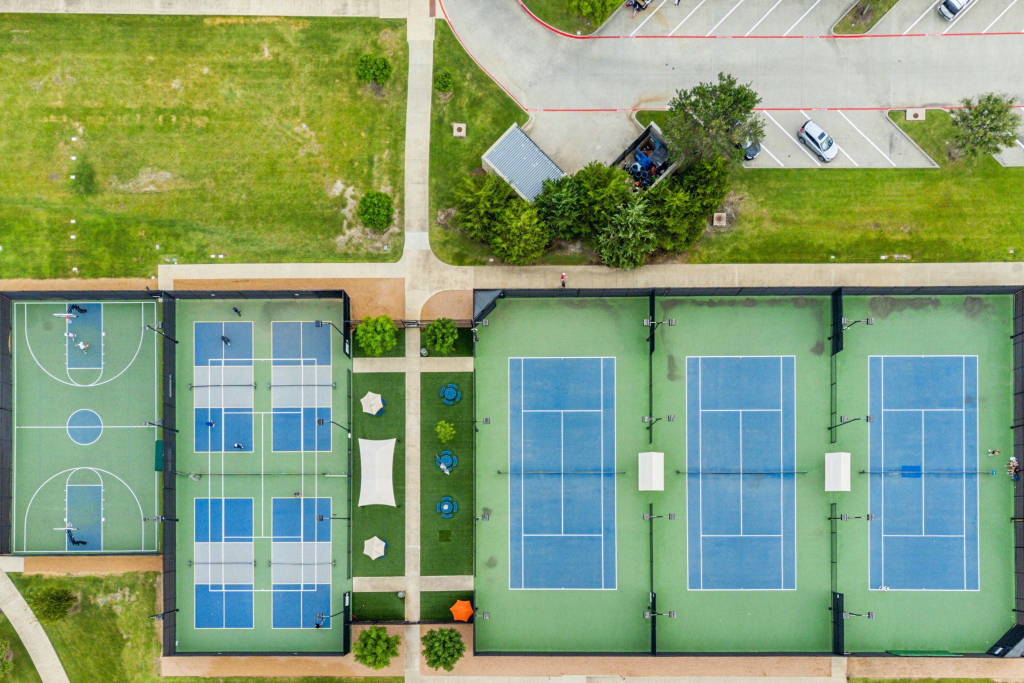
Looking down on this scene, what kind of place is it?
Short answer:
sports ground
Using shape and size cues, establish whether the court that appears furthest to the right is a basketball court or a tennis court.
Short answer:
tennis court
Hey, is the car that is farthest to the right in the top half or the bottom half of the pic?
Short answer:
top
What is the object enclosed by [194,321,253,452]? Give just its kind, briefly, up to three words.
sports court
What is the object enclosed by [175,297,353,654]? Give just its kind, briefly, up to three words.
tennis court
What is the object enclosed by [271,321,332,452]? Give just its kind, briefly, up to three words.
sports court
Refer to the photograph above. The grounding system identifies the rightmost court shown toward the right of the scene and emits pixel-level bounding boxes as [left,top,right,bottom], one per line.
[832,295,1017,653]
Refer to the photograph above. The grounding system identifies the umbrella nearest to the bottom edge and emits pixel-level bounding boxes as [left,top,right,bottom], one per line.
[450,600,473,622]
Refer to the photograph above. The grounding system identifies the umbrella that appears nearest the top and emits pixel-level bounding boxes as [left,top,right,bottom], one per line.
[361,392,384,415]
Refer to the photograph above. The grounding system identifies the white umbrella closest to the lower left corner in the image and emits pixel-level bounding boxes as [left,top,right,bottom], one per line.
[364,537,385,560]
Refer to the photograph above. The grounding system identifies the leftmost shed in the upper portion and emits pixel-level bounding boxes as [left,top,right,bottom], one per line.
[482,122,567,207]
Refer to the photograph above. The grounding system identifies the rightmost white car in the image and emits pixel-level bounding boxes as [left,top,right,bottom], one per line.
[937,0,971,22]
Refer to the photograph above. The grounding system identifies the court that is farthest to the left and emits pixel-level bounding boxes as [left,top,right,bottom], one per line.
[11,299,158,554]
